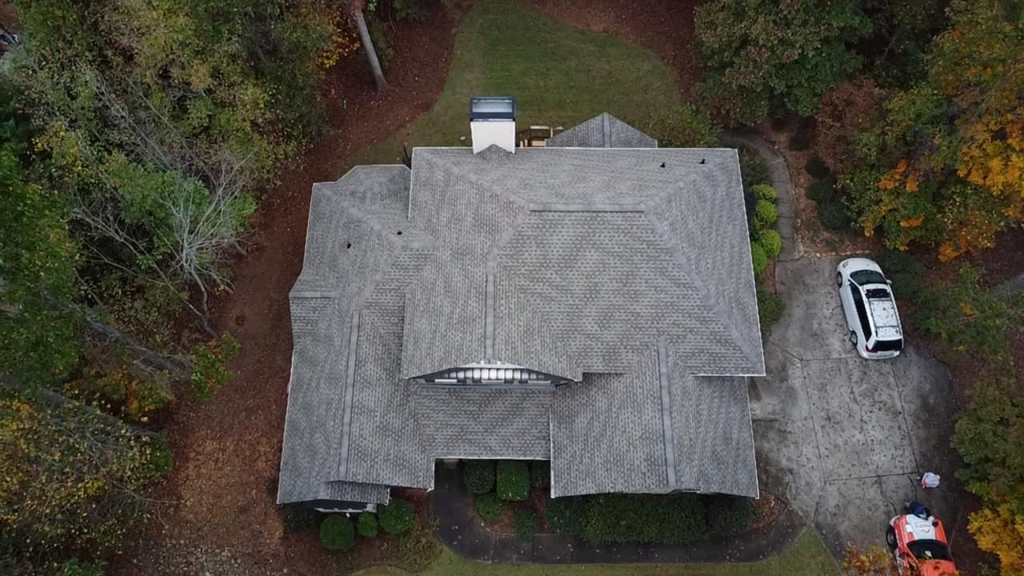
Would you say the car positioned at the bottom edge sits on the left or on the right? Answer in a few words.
right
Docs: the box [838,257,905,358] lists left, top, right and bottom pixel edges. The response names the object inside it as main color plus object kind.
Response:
white car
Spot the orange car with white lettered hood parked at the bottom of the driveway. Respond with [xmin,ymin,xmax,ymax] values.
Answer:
[885,510,960,576]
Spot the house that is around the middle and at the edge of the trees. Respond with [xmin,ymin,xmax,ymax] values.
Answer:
[279,94,764,513]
